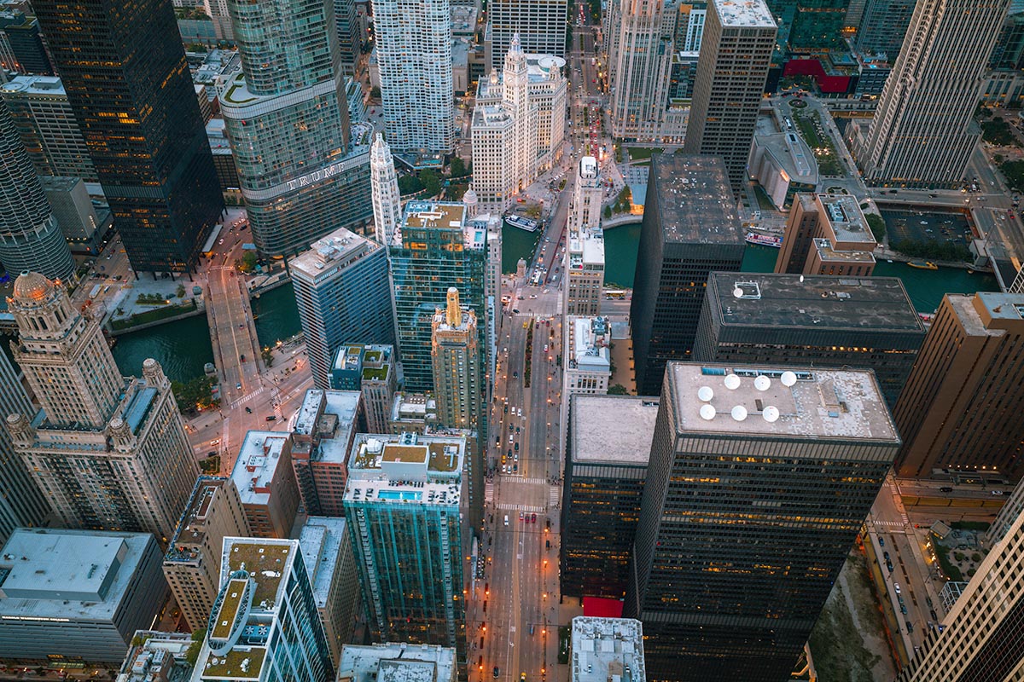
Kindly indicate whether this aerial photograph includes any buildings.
Yes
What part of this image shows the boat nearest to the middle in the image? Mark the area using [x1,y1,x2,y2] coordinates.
[504,216,540,233]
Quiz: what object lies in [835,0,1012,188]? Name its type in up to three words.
building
